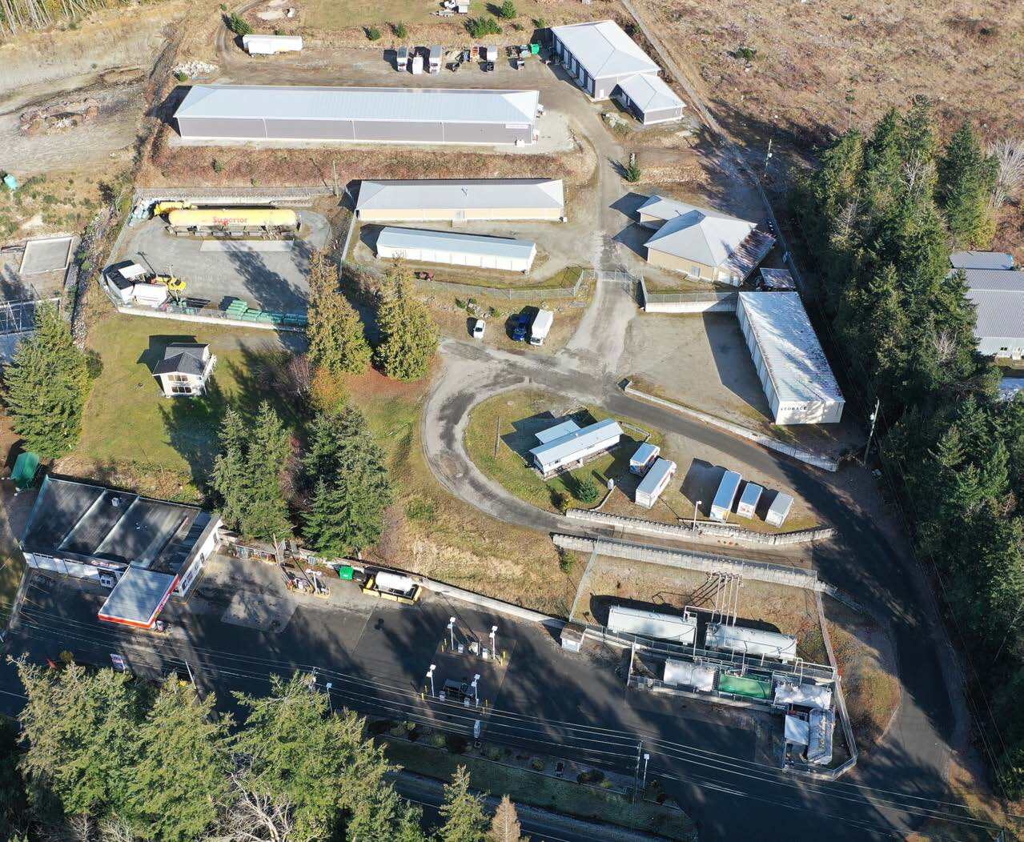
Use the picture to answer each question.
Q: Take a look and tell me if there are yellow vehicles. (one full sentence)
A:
Yes, the picture does show a yellow vehicle.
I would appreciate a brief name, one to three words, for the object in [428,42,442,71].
vehicle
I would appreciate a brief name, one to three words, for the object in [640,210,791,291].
building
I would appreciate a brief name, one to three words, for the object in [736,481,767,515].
truck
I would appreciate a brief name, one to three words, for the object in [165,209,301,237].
storage tank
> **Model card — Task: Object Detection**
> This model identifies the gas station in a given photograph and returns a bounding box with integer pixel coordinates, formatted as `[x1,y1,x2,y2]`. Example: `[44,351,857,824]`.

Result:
[22,474,226,607]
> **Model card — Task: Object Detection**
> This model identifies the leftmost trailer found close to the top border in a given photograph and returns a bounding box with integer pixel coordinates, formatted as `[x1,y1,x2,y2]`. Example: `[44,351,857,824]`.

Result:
[244,33,299,55]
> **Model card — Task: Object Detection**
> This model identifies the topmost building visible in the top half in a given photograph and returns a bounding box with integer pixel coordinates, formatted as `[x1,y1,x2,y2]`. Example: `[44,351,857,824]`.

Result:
[549,18,665,101]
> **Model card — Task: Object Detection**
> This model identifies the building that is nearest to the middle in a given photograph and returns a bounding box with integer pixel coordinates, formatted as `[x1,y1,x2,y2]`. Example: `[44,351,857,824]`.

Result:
[525,414,632,486]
